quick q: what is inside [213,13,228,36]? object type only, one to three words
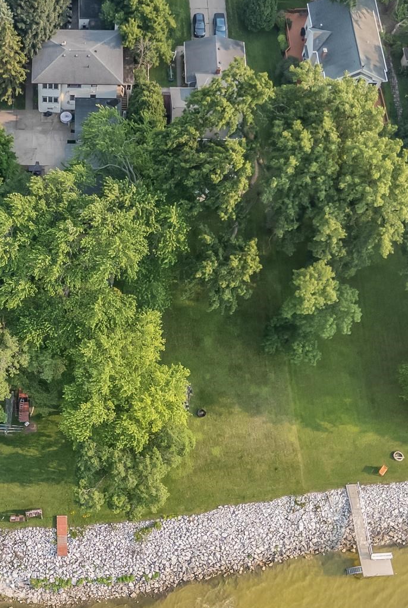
car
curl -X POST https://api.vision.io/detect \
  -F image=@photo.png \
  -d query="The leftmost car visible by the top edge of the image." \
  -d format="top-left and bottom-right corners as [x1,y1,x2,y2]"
[193,11,207,35]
